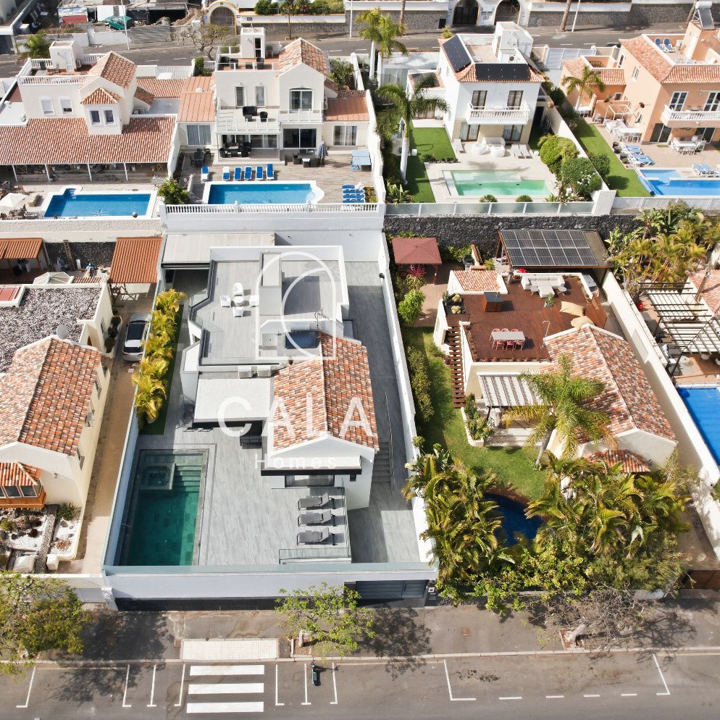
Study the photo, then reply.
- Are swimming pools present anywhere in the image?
Yes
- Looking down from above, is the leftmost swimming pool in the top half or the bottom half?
top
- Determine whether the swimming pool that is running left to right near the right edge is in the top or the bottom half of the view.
top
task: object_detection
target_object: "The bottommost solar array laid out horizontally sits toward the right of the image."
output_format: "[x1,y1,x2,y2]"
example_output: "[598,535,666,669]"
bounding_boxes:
[503,230,595,265]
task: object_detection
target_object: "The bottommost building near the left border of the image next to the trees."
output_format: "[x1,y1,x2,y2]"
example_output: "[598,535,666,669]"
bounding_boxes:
[0,284,114,506]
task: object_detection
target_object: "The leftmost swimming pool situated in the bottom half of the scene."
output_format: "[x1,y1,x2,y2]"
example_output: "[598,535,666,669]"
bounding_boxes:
[121,447,211,573]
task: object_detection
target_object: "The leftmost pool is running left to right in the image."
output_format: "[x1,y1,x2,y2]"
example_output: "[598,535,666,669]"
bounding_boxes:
[38,186,156,216]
